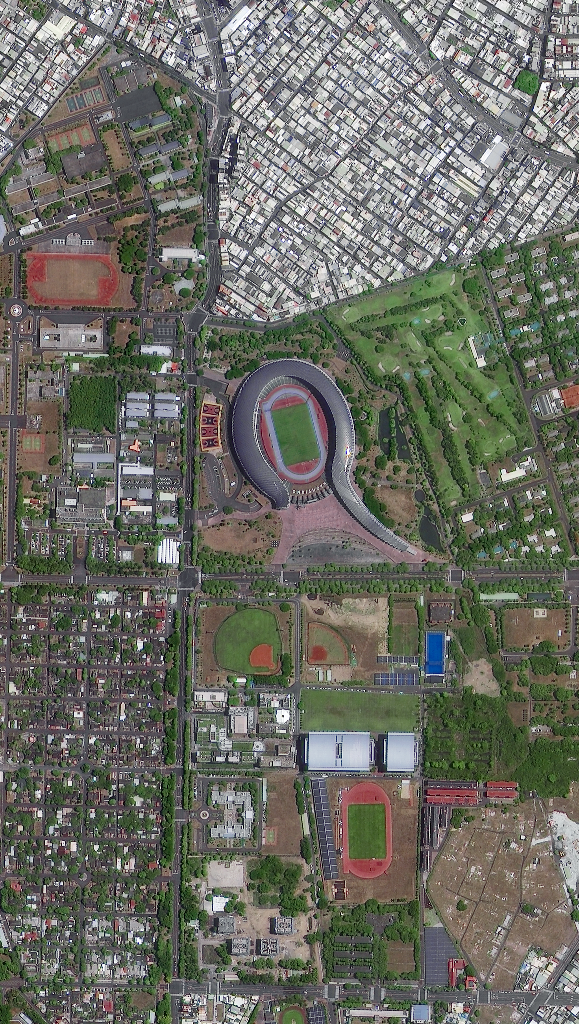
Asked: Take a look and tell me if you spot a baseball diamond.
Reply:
Yes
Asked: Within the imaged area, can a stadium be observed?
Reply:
Yes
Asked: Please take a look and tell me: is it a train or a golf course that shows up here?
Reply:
golf course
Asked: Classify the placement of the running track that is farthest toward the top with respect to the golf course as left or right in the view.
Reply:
on its left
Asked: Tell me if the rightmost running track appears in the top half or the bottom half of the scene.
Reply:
bottom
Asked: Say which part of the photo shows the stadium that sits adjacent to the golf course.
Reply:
center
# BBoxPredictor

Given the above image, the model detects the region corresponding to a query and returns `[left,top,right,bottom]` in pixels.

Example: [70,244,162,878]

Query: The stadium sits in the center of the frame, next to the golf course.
[232,358,417,555]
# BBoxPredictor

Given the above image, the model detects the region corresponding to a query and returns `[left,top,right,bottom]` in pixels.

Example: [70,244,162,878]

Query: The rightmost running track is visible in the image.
[343,783,392,880]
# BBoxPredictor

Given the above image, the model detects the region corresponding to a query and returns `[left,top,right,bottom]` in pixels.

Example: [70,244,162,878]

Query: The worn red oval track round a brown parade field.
[27,252,119,305]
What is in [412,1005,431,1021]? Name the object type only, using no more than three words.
shed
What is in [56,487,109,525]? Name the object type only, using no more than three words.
building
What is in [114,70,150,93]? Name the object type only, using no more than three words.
building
